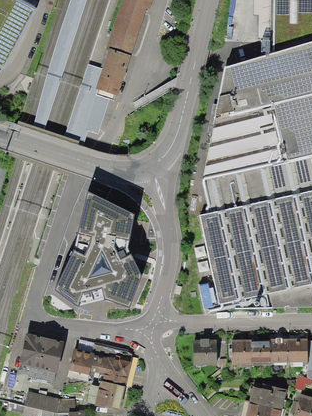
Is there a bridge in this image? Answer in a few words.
Yes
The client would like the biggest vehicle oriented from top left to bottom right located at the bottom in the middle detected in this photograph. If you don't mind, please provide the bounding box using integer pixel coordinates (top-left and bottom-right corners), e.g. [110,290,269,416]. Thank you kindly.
[162,380,186,402]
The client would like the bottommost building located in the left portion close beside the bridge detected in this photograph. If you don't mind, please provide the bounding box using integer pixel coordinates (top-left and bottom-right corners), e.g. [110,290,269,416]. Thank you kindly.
[52,192,142,307]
